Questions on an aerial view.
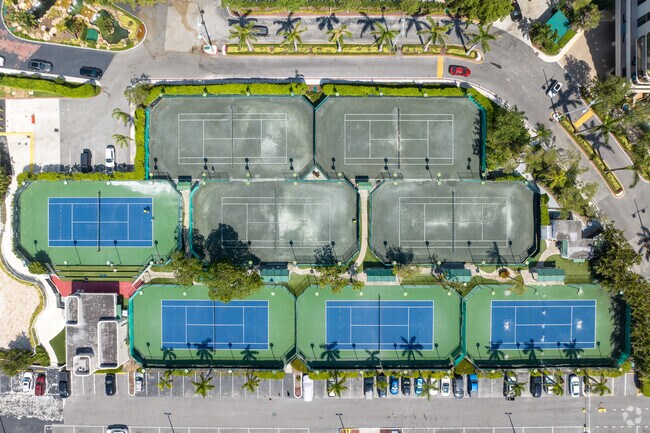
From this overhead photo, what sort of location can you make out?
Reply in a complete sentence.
The picture captures a sports ground.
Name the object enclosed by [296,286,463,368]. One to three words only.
tennis court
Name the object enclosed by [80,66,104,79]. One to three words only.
vehicle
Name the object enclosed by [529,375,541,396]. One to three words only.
vehicle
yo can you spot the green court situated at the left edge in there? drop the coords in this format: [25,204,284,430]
[19,181,182,264]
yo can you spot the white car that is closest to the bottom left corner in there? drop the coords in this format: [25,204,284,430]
[23,370,35,392]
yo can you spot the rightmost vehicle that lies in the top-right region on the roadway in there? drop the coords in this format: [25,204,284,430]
[546,79,564,97]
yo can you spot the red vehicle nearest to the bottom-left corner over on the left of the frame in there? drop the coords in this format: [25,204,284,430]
[35,371,48,396]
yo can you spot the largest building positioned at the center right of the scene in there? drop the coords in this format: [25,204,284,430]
[543,220,604,263]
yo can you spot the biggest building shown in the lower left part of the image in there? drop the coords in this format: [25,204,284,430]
[66,291,136,377]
